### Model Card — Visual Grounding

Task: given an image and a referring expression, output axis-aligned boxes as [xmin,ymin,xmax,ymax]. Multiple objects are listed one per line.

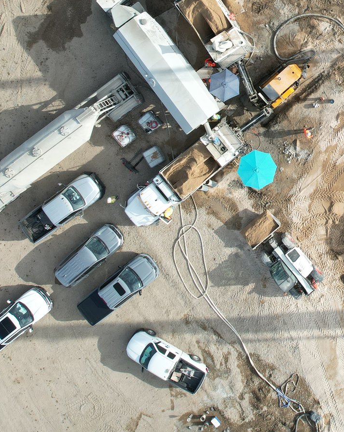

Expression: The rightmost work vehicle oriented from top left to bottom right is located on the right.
[242,210,323,300]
